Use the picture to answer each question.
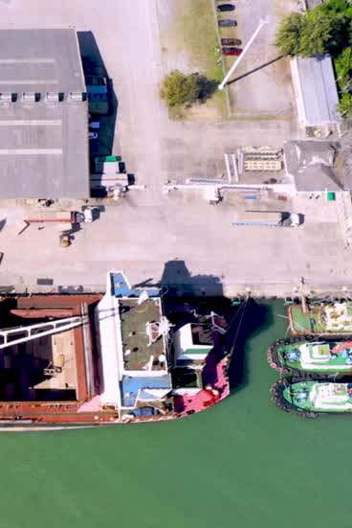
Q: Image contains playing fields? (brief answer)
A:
No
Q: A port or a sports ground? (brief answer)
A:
port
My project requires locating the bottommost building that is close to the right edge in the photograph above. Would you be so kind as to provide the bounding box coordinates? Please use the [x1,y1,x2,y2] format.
[281,140,351,196]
